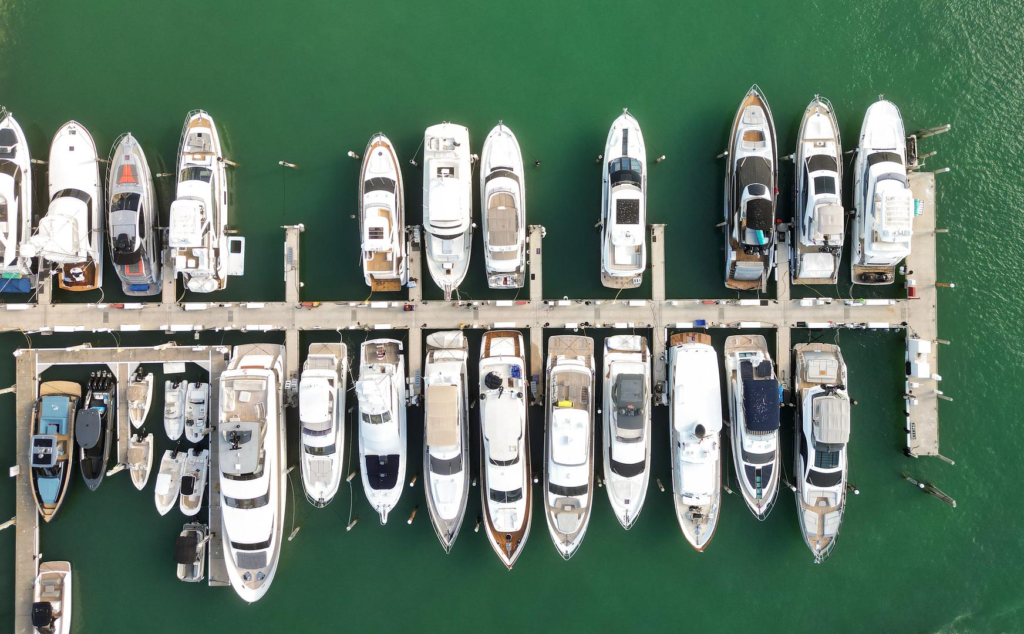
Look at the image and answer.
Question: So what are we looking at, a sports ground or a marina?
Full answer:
The picture captures a marina.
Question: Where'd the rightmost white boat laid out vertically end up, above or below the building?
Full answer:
Looking at the photo, you'll find the rightmost white boat laid out vertically above the building.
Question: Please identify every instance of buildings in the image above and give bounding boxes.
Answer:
[903,340,930,378]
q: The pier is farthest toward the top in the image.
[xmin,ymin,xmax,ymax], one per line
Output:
[0,171,939,457]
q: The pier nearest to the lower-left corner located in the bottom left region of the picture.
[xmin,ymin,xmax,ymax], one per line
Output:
[14,340,233,634]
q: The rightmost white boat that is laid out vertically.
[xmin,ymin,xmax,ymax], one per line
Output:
[842,93,913,305]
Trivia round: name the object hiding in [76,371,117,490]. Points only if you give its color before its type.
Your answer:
gray boat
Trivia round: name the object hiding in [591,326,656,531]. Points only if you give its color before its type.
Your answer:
white boat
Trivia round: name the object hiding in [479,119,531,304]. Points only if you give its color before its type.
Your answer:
white boat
